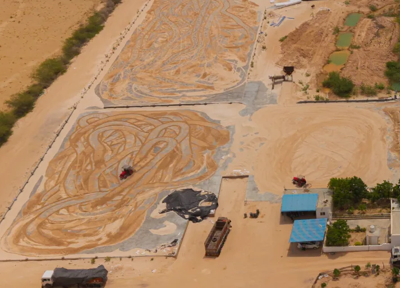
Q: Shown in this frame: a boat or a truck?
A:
truck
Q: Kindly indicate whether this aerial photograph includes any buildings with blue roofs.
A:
Yes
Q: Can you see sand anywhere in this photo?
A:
Yes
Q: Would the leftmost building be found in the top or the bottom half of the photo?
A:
bottom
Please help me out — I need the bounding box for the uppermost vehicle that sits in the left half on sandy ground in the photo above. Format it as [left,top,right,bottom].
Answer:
[117,158,139,176]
